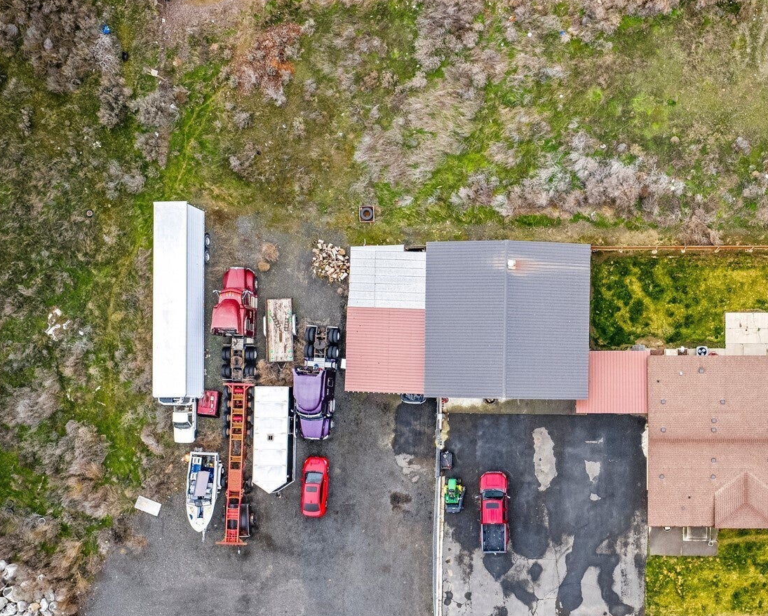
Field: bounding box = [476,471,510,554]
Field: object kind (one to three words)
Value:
truck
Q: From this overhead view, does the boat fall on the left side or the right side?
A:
left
